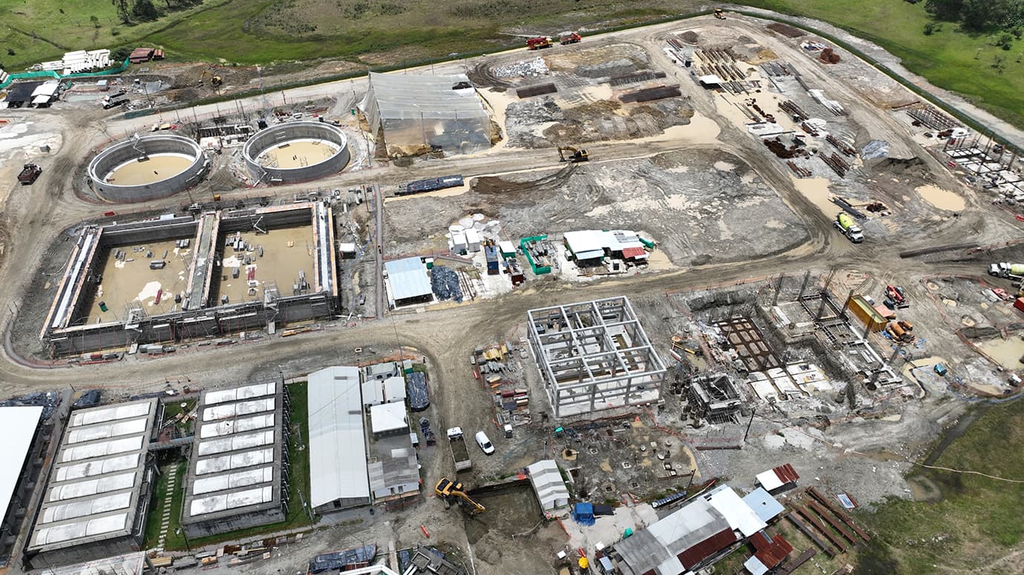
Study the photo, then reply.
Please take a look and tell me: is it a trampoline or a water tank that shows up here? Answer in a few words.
water tank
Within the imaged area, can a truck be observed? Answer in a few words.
Yes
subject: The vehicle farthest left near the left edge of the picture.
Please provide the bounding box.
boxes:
[10,158,45,181]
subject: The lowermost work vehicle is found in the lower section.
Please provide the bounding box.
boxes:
[431,474,485,515]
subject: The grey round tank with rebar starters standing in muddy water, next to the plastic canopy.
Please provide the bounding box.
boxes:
[240,121,349,185]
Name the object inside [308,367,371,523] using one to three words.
shed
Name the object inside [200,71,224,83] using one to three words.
vehicle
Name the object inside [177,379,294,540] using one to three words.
building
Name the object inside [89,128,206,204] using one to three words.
water tank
